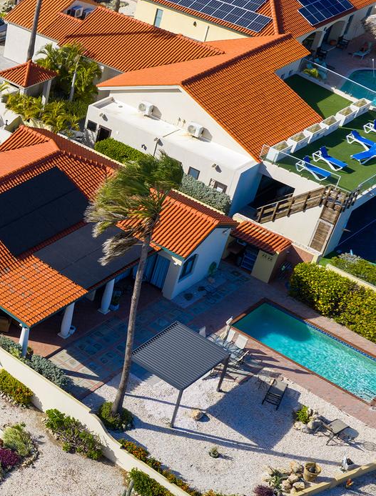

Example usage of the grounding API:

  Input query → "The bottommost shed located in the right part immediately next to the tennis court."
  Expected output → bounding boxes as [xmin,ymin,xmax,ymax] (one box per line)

[229,217,292,283]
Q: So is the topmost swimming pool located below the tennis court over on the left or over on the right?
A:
right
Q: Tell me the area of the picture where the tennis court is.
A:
right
